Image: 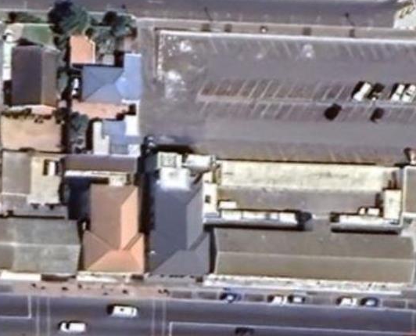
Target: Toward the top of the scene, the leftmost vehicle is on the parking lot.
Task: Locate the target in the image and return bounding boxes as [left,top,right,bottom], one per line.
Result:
[325,101,342,122]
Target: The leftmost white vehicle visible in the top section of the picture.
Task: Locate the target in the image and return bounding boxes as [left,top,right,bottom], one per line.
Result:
[356,83,370,101]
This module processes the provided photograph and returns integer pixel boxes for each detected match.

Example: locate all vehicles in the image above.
[360,298,380,307]
[60,322,85,331]
[407,149,416,167]
[270,295,288,303]
[368,83,382,102]
[110,306,135,315]
[289,295,307,305]
[325,101,342,122]
[370,105,385,123]
[338,298,357,306]
[220,293,241,302]
[356,83,370,101]
[390,84,406,102]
